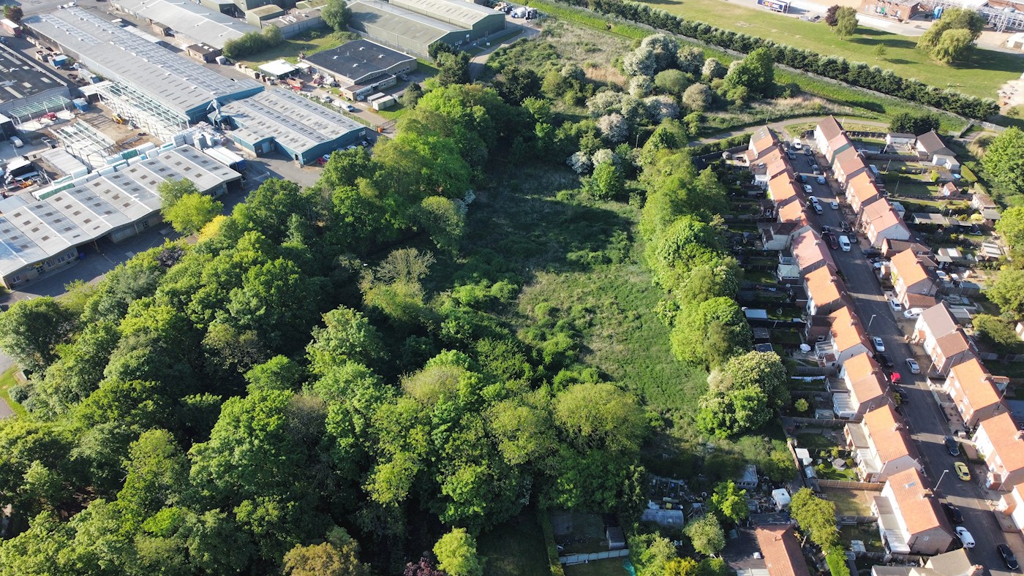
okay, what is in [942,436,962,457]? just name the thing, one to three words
car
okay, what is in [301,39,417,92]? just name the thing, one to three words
building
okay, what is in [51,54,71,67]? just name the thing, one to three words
vehicle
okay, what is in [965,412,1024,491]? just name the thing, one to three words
house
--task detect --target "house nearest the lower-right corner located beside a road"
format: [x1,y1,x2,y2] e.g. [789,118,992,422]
[982,488,1024,560]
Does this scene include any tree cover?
Yes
